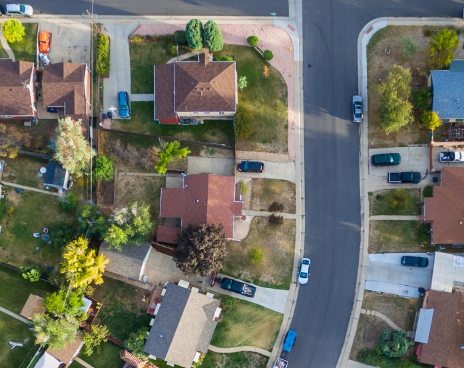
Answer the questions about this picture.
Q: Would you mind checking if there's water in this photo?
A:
No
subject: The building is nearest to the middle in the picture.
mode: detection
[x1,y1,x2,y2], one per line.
[156,173,242,243]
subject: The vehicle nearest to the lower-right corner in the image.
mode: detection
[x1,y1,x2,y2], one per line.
[399,255,429,268]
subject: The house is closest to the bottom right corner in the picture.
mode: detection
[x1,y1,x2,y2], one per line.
[417,290,464,368]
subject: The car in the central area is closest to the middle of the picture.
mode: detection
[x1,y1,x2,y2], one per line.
[237,159,265,174]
